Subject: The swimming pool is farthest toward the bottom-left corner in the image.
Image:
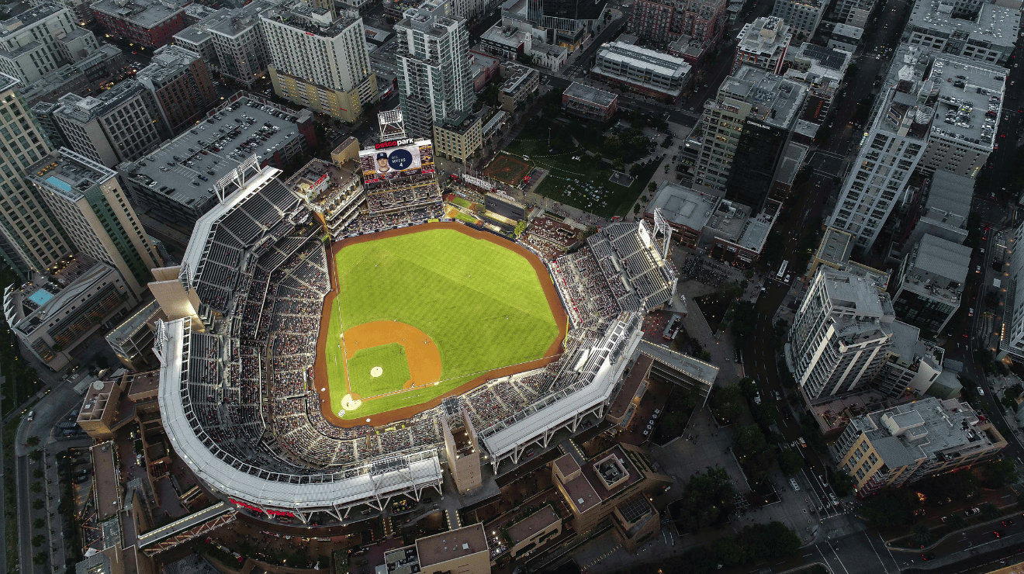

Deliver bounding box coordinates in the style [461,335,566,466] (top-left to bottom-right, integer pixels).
[29,289,54,305]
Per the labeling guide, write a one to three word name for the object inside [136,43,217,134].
building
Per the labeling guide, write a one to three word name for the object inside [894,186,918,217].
house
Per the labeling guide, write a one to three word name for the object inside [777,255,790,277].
vehicle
